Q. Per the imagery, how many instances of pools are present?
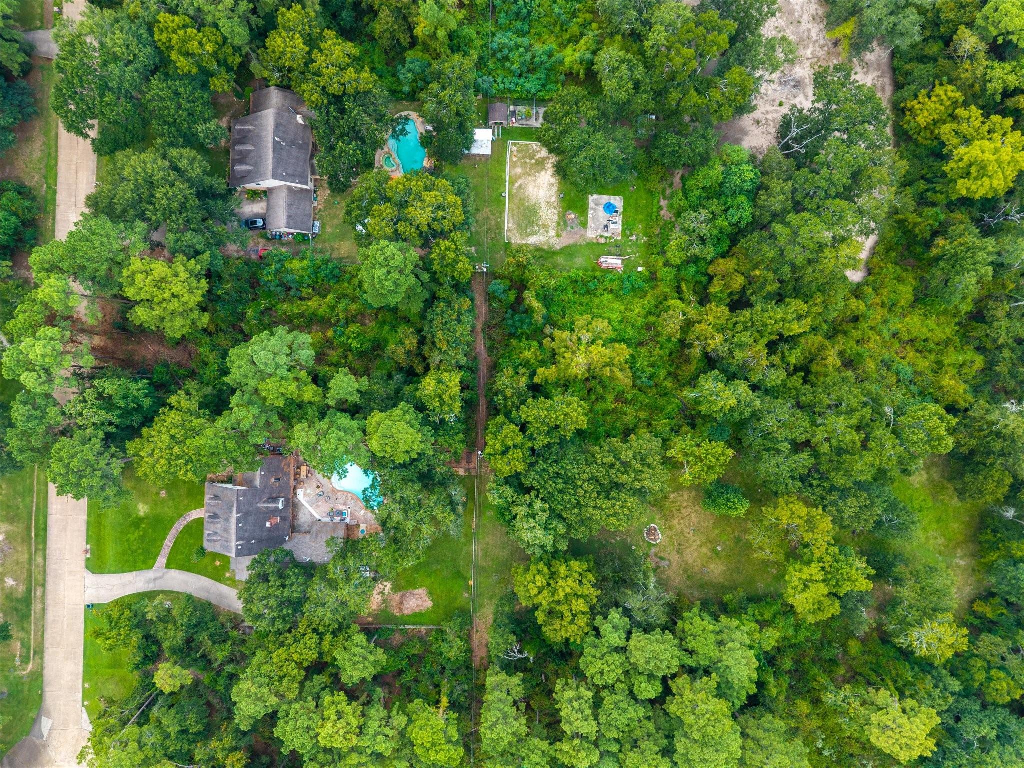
two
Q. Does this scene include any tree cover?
Yes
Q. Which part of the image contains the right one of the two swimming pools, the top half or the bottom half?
top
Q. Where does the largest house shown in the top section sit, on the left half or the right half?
left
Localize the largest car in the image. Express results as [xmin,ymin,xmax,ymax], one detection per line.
[241,217,267,230]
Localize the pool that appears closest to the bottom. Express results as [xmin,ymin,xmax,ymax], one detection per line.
[329,462,386,513]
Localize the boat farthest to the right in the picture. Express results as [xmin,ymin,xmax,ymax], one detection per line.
[593,256,622,269]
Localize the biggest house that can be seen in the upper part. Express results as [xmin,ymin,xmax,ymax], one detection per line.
[230,87,323,234]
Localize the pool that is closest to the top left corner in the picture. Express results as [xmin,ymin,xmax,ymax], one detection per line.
[380,115,428,177]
